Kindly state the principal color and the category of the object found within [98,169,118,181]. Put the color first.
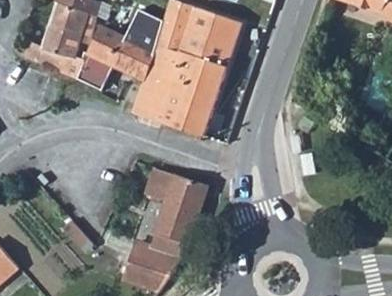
white vehicle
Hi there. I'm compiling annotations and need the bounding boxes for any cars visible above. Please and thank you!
[238,176,249,198]
[270,199,288,220]
[98,169,118,181]
[0,0,6,19]
[5,64,22,85]
[237,255,248,275]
